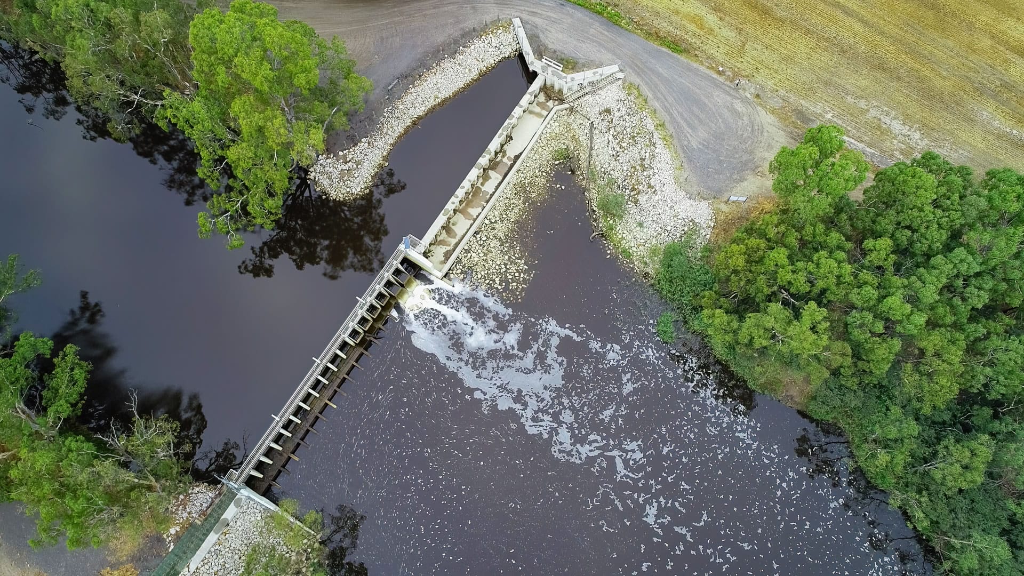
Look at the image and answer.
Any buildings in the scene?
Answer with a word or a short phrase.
No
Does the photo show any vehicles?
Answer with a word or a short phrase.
No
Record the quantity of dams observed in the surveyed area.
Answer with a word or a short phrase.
2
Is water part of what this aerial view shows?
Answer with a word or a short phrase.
Yes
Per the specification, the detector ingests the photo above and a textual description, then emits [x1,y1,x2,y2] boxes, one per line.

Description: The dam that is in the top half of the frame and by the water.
[421,78,573,274]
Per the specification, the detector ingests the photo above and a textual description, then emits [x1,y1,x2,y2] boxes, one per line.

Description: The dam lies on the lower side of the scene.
[236,259,427,493]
